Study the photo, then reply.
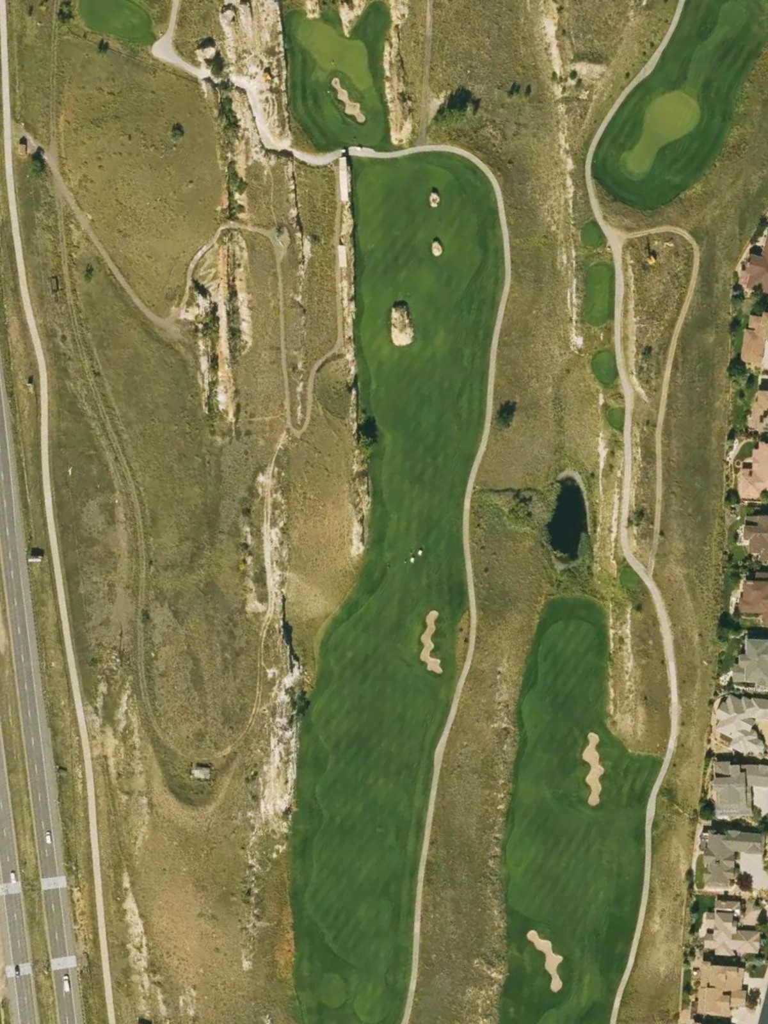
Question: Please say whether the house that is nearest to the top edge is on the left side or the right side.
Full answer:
It is on the right.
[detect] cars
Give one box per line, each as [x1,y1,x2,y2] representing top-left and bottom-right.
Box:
[15,966,20,977]
[45,832,51,843]
[63,976,69,991]
[10,872,16,884]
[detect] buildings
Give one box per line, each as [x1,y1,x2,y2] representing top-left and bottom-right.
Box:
[736,239,768,290]
[738,444,768,498]
[701,829,766,889]
[741,311,768,364]
[697,960,747,1018]
[744,514,768,558]
[192,766,211,777]
[714,762,768,818]
[746,377,768,430]
[739,571,768,624]
[701,897,762,956]
[735,639,768,689]
[712,693,768,751]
